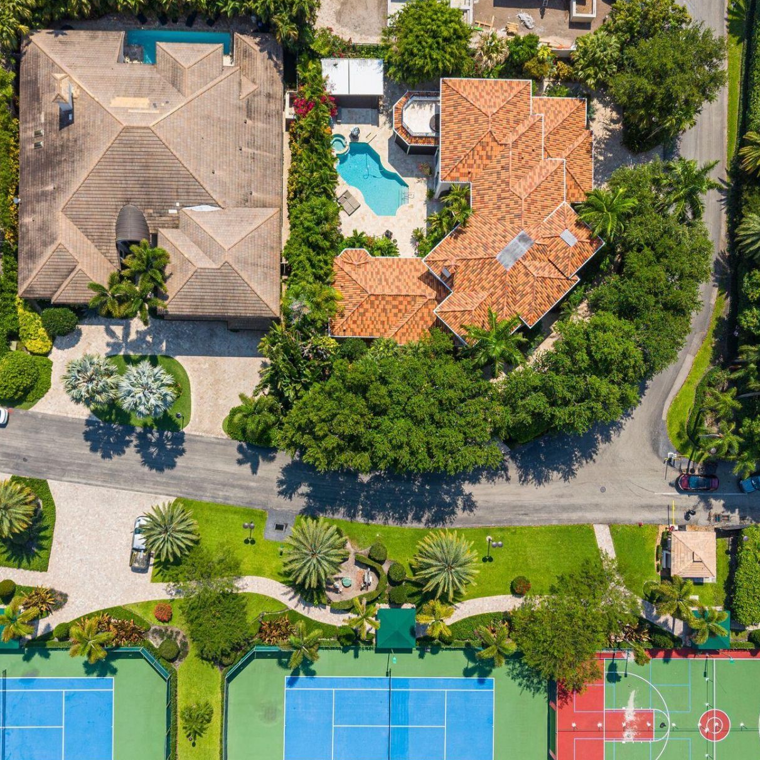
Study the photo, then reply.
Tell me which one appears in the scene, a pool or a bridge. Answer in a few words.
pool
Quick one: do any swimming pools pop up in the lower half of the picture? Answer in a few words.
No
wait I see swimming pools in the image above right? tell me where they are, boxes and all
[335,140,411,218]
[124,28,233,65]
[332,134,351,155]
